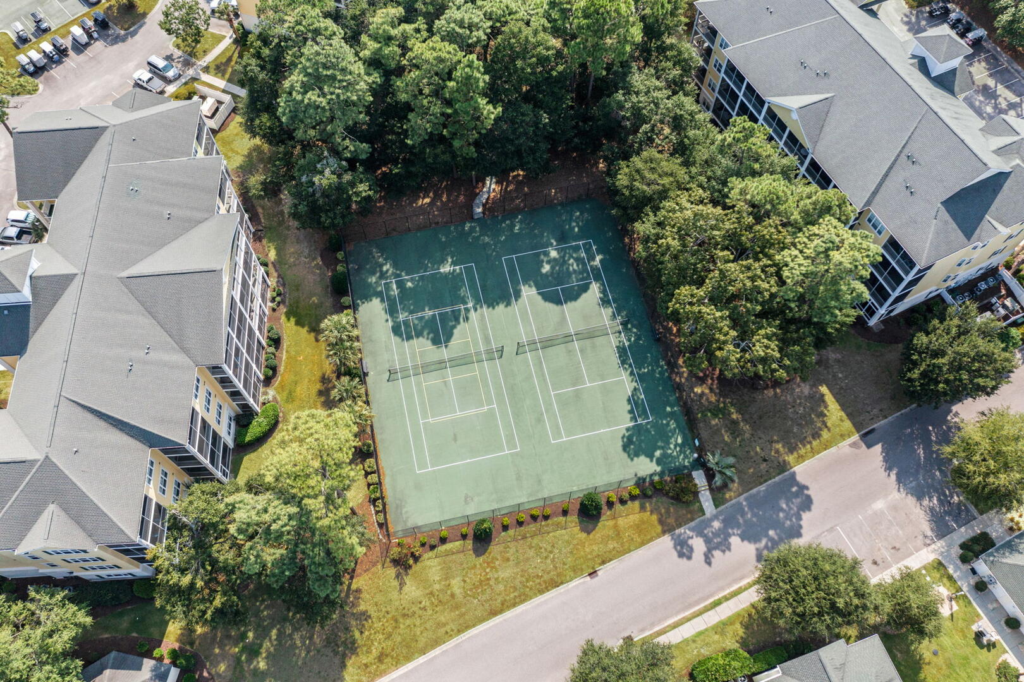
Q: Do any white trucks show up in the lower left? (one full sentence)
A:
No, no white truck is visible in the lower left.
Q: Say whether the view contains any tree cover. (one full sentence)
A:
Yes, some tree cover is visible.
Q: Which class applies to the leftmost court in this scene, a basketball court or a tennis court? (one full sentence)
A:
What you see as the leftmost court is a tennis court.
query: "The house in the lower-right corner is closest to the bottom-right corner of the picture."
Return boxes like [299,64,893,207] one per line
[965,532,1024,645]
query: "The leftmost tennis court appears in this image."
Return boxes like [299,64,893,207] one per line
[346,220,550,537]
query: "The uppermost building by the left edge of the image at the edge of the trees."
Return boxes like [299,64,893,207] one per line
[0,88,266,577]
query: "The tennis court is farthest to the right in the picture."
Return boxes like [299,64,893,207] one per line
[478,196,695,501]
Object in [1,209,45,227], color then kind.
white car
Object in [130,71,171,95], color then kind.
white truck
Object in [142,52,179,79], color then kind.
white car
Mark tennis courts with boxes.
[478,196,695,501]
[346,220,550,537]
